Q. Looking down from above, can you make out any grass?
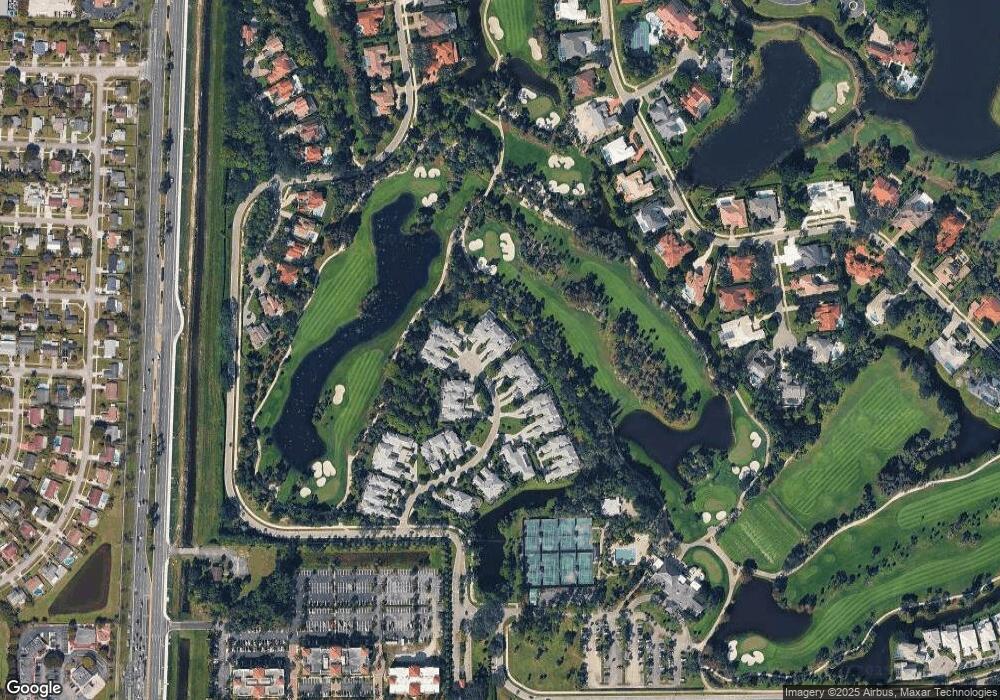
Yes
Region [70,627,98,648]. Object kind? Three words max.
building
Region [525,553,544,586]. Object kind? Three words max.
tennis court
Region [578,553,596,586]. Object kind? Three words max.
tennis court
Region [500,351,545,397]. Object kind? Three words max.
house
